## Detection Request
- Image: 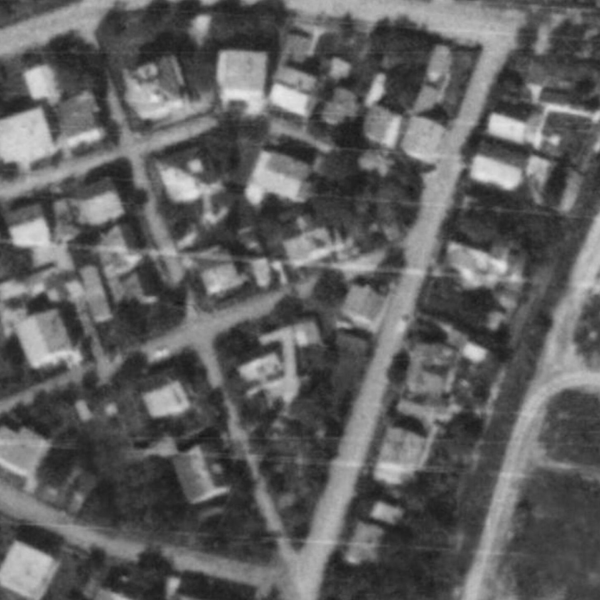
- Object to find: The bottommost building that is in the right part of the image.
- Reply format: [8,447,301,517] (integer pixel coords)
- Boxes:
[347,522,383,564]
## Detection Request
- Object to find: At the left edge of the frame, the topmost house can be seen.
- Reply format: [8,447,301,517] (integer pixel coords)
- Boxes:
[25,64,59,106]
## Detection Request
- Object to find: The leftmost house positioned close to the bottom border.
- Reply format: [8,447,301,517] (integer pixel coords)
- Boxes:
[0,542,60,600]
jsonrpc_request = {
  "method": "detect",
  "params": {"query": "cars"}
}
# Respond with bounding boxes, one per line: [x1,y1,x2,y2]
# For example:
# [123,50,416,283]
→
[154,347,172,359]
[396,320,406,334]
